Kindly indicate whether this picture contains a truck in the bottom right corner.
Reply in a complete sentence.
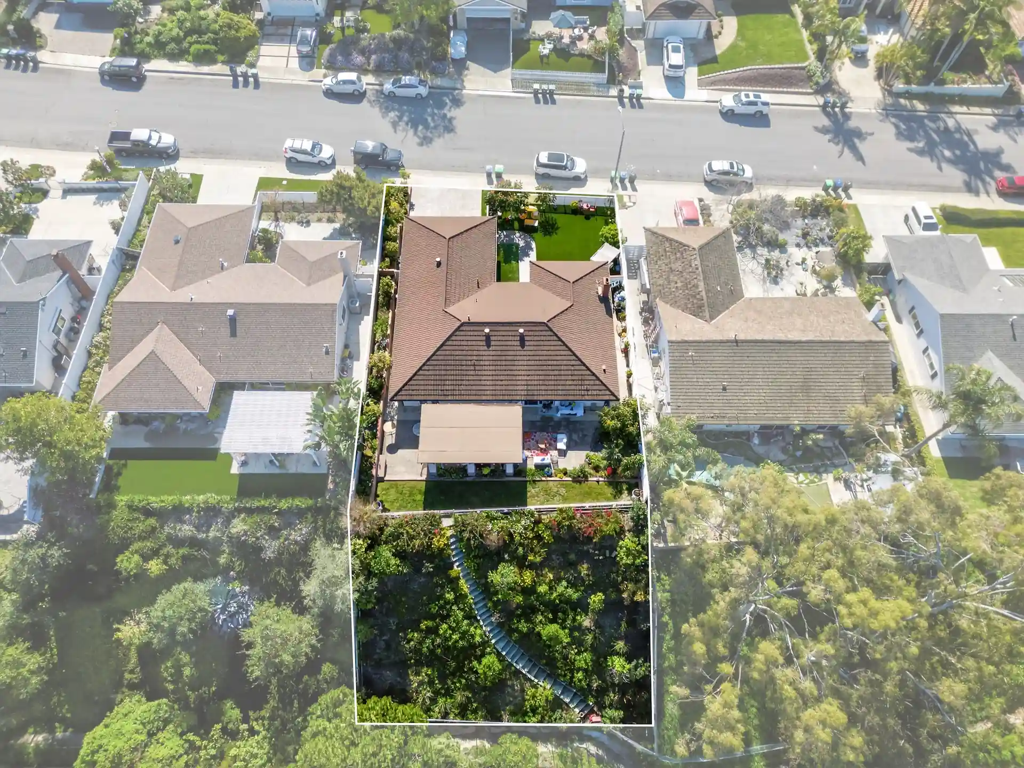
No, I can find no truck in the bottom right corner.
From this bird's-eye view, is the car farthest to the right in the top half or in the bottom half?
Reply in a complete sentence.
The car farthest to the right is in the top half of the image.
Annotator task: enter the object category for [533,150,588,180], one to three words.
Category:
car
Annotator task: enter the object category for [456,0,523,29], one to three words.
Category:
house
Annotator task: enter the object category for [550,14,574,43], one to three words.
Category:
umbrella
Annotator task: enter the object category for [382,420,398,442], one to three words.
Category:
umbrella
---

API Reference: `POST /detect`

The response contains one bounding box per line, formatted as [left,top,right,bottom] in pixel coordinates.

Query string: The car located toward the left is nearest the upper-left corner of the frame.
[95,59,143,84]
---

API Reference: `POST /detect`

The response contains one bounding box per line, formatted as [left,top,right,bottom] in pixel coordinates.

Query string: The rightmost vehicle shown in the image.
[998,170,1024,194]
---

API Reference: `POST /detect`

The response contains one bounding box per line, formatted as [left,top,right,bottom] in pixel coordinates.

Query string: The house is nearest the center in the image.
[389,215,619,413]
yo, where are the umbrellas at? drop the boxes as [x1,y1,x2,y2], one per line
[550,14,574,43]
[382,420,398,442]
